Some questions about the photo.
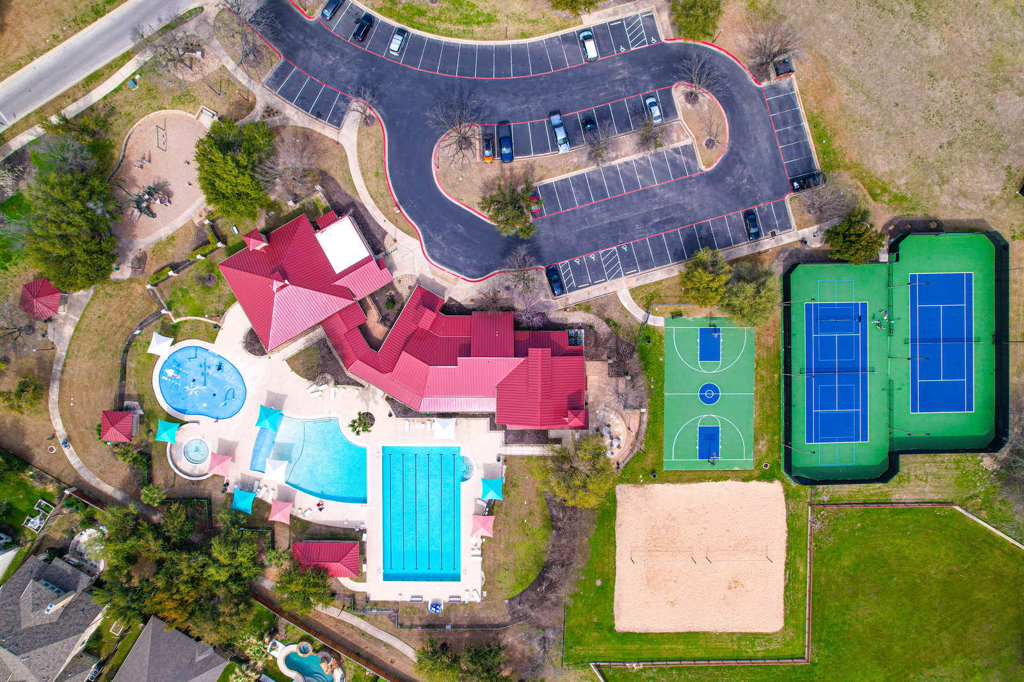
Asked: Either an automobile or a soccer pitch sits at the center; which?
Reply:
automobile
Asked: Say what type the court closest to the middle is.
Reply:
basketball court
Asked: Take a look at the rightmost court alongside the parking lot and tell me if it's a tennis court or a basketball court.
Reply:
tennis court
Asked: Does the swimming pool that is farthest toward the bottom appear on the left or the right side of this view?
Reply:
left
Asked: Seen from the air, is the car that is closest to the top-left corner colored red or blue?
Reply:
blue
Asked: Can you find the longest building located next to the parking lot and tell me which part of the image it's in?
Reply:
center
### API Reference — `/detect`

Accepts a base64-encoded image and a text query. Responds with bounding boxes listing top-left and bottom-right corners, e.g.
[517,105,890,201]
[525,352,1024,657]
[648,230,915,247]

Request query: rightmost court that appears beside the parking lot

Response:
[889,234,995,452]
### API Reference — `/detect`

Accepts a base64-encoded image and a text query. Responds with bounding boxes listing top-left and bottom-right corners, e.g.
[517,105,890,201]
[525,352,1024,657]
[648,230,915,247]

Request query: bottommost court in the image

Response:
[613,479,787,634]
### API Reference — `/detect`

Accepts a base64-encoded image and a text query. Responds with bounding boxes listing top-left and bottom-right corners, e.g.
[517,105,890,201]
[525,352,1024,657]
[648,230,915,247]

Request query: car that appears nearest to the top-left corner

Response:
[320,0,344,22]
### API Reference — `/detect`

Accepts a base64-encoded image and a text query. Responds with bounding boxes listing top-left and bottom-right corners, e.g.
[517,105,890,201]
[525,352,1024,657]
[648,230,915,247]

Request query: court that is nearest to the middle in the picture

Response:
[664,317,755,470]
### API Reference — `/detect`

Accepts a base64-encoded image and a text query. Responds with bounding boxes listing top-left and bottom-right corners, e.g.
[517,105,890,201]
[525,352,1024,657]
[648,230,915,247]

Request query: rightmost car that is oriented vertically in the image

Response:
[743,210,759,239]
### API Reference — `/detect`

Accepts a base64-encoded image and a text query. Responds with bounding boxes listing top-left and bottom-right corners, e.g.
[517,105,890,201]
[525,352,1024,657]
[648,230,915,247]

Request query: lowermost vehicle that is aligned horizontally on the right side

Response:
[789,172,825,191]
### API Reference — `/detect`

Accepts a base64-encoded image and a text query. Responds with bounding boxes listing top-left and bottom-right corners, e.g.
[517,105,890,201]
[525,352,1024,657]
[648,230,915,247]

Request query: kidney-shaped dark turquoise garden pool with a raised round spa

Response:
[277,641,346,682]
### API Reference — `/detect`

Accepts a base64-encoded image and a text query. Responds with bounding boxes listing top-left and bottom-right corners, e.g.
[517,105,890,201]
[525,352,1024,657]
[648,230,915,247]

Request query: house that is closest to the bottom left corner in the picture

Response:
[0,555,108,682]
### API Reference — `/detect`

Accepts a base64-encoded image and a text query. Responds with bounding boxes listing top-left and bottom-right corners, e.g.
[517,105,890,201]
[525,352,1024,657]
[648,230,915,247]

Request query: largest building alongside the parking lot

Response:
[320,284,589,430]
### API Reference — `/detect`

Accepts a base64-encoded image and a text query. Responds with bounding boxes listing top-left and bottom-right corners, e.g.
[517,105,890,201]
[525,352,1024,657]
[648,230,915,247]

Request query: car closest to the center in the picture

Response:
[546,266,563,295]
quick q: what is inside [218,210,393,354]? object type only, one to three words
building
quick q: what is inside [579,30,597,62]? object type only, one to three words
car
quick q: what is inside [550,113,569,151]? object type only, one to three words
vehicle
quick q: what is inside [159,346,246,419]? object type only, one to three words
swimming pool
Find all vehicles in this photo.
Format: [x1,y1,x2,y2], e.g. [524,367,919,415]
[550,113,569,151]
[583,117,597,142]
[482,136,495,160]
[743,210,759,239]
[498,124,513,161]
[390,28,407,59]
[579,30,597,62]
[352,12,374,42]
[320,0,344,22]
[645,96,661,125]
[789,172,825,191]
[546,266,563,295]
